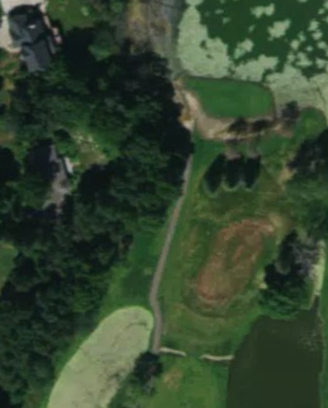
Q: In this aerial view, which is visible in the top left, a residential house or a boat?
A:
residential house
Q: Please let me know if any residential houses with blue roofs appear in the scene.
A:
No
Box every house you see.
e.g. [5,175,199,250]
[28,135,72,207]
[3,3,57,72]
